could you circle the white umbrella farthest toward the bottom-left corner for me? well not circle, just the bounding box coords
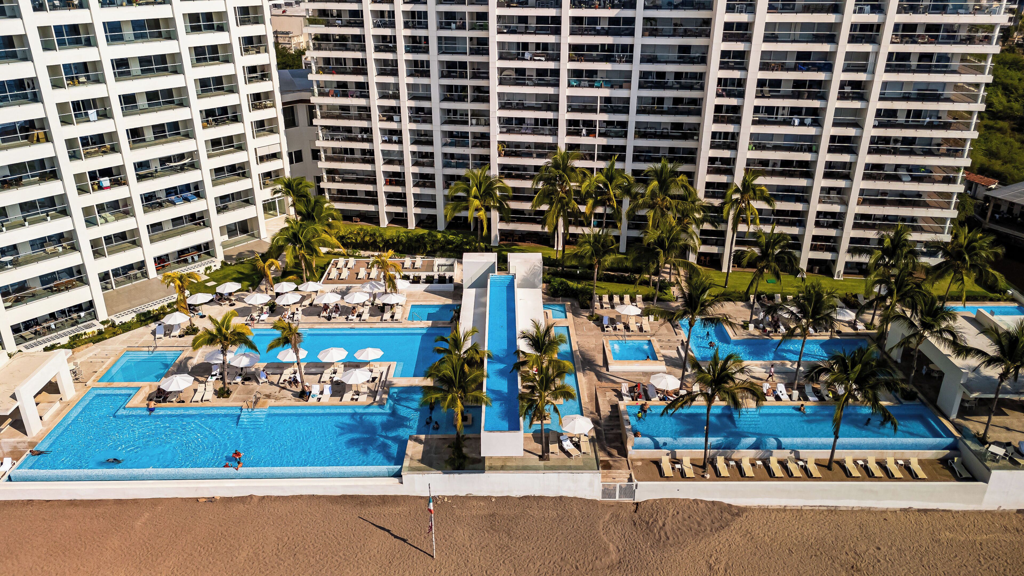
[160,374,195,402]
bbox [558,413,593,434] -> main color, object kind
white umbrella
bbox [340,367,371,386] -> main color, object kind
white umbrella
